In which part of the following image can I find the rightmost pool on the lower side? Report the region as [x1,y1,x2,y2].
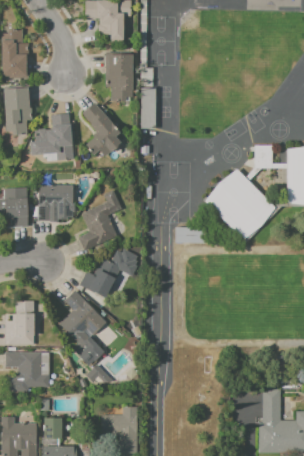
[98,349,137,380]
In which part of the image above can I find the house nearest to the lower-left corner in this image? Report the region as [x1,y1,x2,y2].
[2,418,37,456]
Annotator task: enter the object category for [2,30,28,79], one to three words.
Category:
house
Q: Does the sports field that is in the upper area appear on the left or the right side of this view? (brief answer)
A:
right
